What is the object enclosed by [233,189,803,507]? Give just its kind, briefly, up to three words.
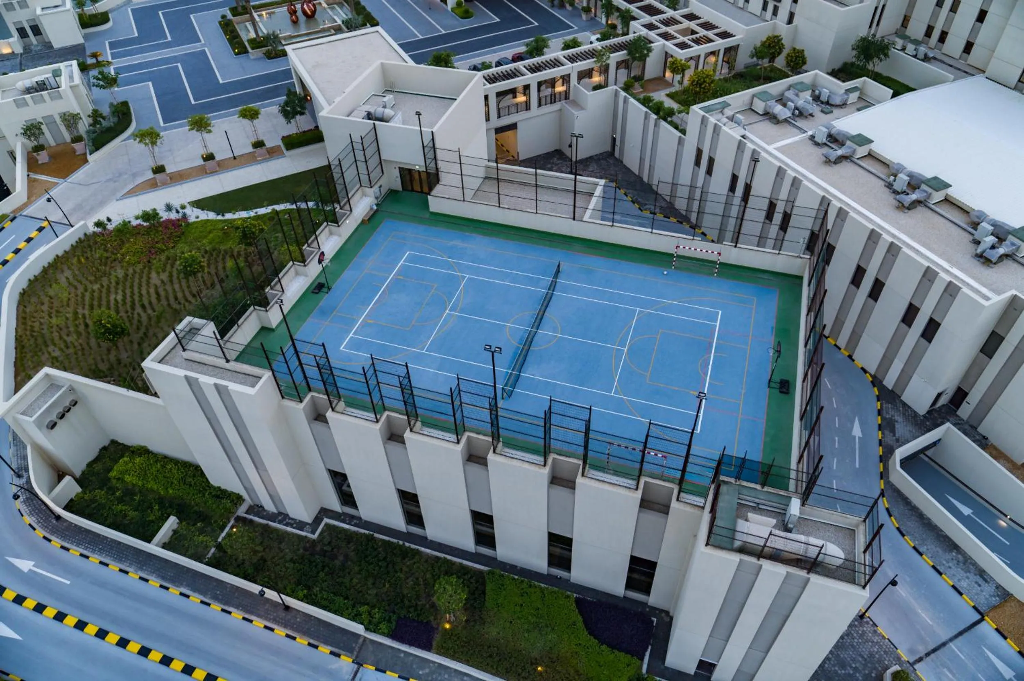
sports court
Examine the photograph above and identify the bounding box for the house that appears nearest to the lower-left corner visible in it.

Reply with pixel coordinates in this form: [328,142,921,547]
[20,381,113,484]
